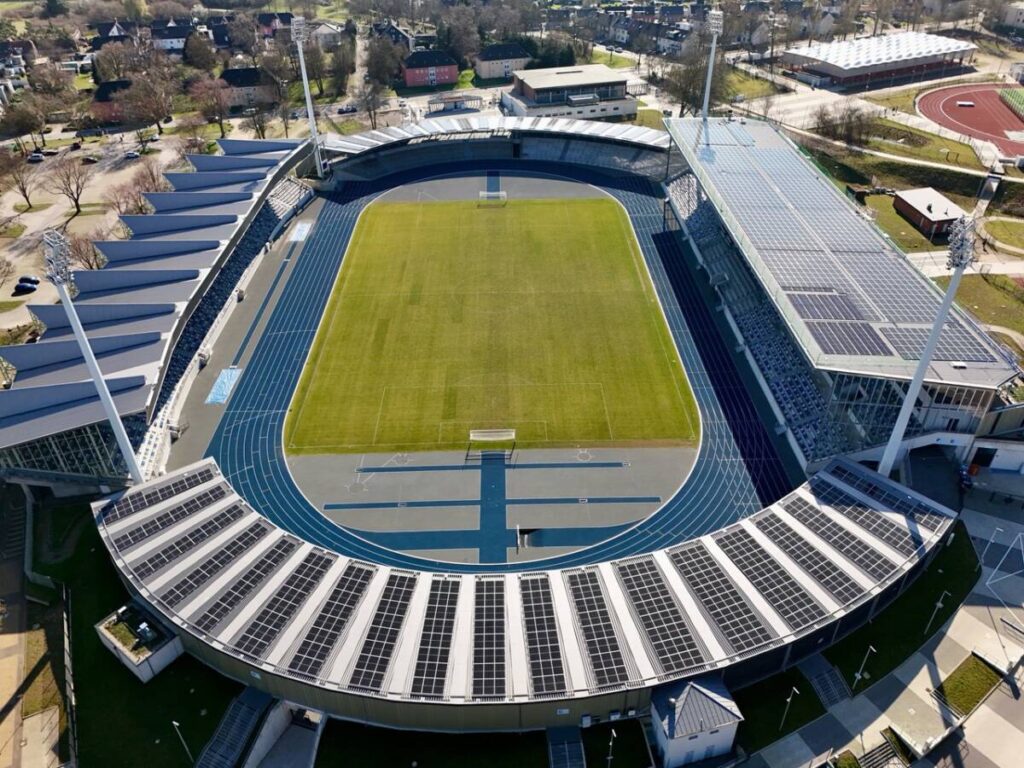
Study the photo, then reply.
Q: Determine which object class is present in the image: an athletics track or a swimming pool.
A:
athletics track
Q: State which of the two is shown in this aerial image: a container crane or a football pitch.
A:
football pitch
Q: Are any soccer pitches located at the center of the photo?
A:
Yes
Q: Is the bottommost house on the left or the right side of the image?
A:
right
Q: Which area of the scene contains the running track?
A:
center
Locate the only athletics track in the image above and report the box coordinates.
[204,158,798,575]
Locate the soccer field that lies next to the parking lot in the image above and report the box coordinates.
[286,198,699,456]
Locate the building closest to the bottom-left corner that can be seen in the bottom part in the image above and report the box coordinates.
[94,602,186,684]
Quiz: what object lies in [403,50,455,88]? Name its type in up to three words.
house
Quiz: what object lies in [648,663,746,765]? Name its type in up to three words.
house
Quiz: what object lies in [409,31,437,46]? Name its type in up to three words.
shed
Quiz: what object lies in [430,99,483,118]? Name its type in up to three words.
building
